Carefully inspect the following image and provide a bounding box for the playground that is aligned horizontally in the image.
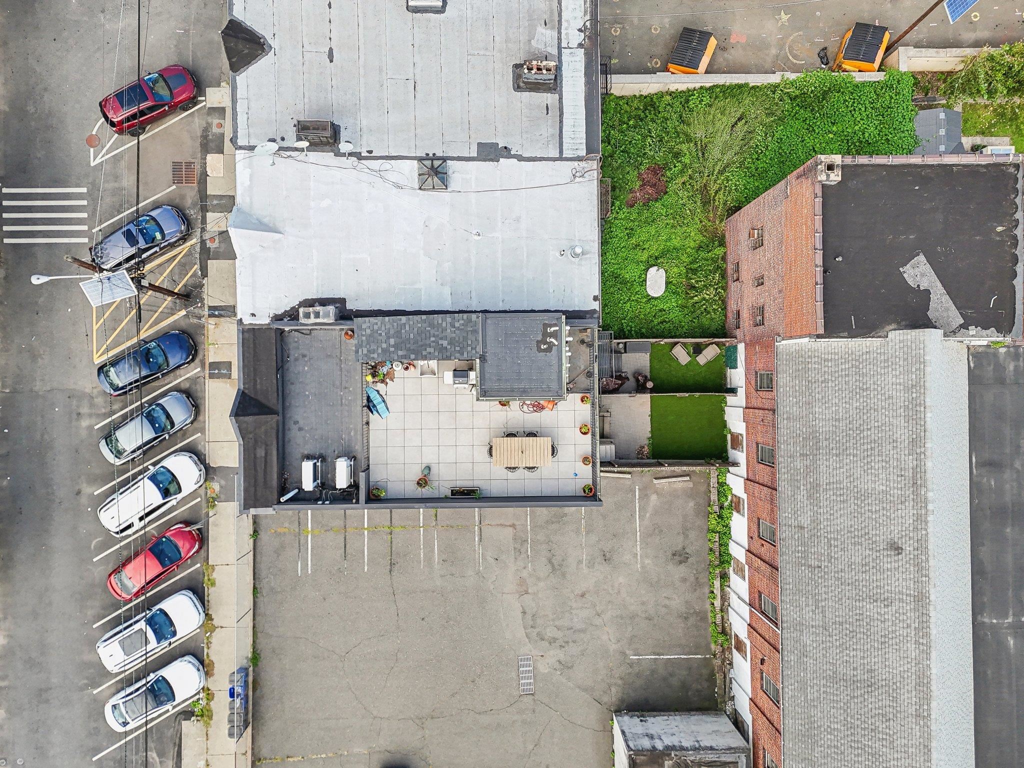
[600,0,1024,90]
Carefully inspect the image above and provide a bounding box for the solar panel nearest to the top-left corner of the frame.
[81,269,136,308]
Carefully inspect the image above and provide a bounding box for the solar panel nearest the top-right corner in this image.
[940,0,982,23]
